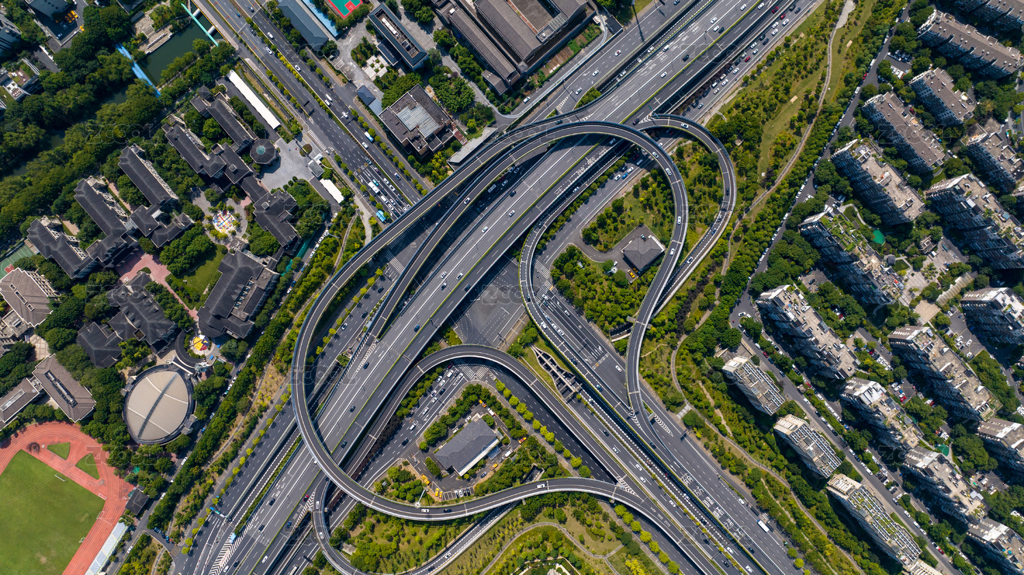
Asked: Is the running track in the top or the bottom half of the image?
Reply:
bottom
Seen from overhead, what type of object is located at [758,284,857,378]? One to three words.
building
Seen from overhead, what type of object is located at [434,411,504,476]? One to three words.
building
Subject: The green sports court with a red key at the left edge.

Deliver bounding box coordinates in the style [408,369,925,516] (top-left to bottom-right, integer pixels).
[0,242,35,279]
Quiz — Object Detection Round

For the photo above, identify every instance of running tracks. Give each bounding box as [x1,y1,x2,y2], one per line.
[0,419,135,575]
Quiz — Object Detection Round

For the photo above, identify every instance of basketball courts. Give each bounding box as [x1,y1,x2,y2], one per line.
[332,0,363,18]
[0,242,35,279]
